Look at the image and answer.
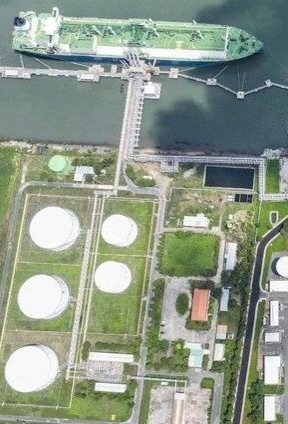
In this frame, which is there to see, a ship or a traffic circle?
ship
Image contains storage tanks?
Yes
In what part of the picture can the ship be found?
top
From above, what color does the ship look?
white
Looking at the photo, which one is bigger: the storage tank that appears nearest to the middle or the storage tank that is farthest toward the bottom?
the storage tank that is farthest toward the bottom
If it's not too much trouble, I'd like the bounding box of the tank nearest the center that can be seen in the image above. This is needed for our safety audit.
[101,213,140,249]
